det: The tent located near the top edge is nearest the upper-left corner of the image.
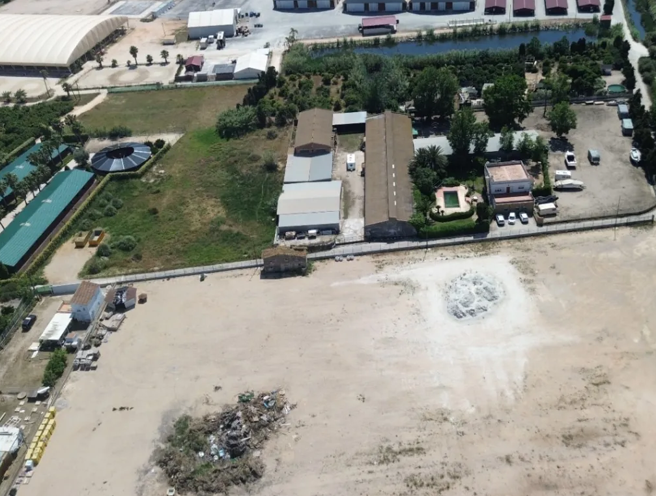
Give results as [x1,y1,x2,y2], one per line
[186,12,235,38]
